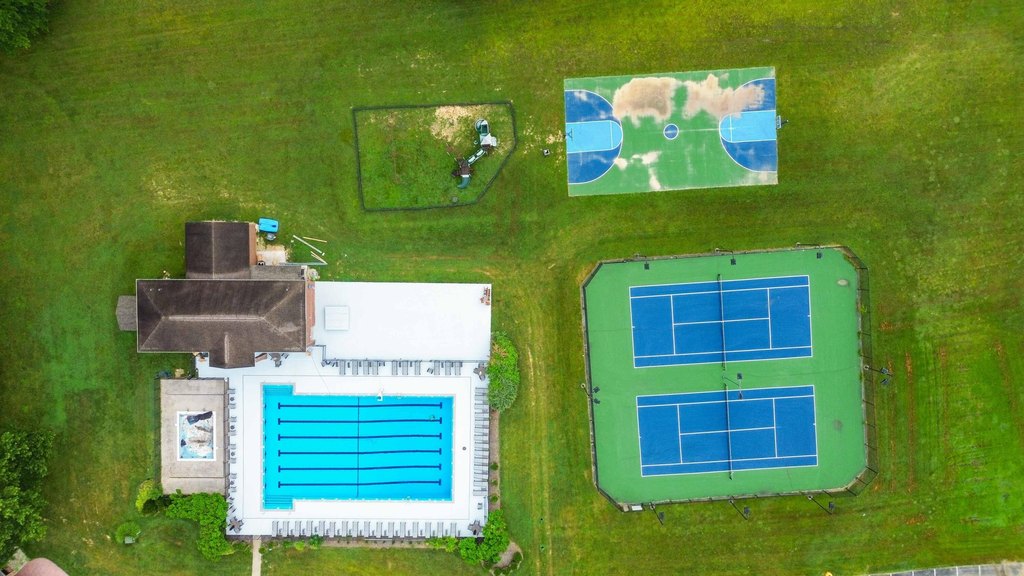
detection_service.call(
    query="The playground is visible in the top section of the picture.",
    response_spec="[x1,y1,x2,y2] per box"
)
[450,116,497,191]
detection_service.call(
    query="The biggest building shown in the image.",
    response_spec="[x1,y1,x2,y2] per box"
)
[116,221,313,368]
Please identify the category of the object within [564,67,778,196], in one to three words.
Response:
basketball court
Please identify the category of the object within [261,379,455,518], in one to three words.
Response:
swimming pool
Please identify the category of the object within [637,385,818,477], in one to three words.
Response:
tennis court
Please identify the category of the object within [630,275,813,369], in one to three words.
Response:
tennis court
